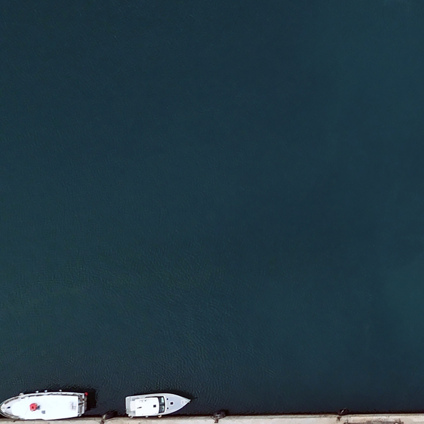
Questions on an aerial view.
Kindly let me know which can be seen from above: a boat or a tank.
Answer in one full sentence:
It is a boat that can be seen here.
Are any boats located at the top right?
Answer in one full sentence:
No, looking at the top right, there is no boat.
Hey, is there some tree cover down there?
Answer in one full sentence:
No, no tree cover is visible.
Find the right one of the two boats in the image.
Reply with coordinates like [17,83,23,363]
[126,393,193,417]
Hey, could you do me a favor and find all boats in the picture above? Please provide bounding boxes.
[0,392,90,422]
[126,393,193,417]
